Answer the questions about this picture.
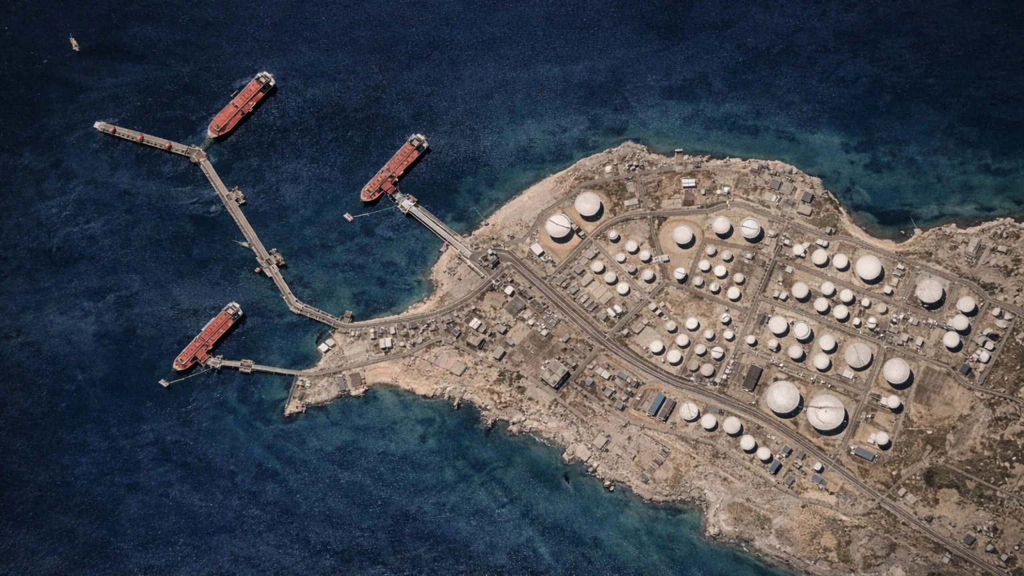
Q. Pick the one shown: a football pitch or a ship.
ship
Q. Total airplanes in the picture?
none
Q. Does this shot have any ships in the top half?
Yes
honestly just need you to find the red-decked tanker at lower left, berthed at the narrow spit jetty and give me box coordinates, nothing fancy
[173,302,241,371]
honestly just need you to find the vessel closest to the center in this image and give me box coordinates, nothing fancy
[361,135,427,201]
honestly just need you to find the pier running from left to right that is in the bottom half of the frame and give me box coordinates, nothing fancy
[199,352,299,376]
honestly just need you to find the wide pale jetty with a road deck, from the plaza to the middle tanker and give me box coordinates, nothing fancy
[391,191,485,276]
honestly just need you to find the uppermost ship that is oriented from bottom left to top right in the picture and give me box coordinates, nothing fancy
[207,70,275,140]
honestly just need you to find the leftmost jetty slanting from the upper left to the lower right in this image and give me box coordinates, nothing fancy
[94,120,340,330]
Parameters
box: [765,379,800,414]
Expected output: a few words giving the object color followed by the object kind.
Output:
white storage tank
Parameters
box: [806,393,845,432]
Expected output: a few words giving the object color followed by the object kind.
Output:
white storage tank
